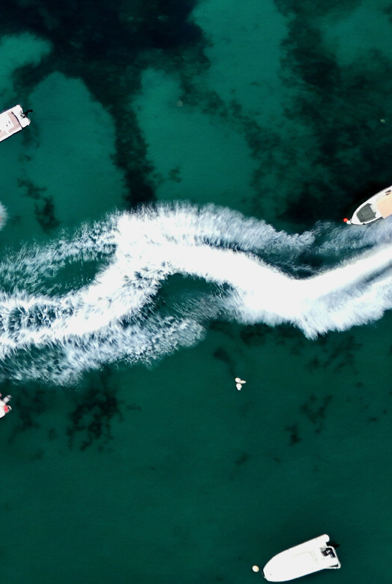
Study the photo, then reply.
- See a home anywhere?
No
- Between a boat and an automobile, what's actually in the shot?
boat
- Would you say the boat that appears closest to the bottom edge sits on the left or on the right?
right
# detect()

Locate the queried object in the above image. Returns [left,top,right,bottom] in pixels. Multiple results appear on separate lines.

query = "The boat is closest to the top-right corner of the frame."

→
[350,186,392,225]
